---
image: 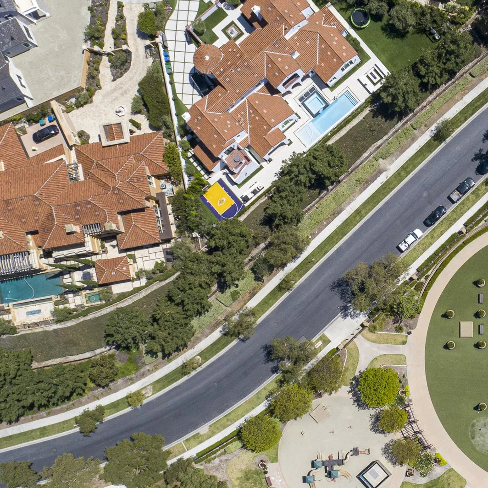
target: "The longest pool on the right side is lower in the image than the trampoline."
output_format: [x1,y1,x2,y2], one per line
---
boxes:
[300,91,359,148]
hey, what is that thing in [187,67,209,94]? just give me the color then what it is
black car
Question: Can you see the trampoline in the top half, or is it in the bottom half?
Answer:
top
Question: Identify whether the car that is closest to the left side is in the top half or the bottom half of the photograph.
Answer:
top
